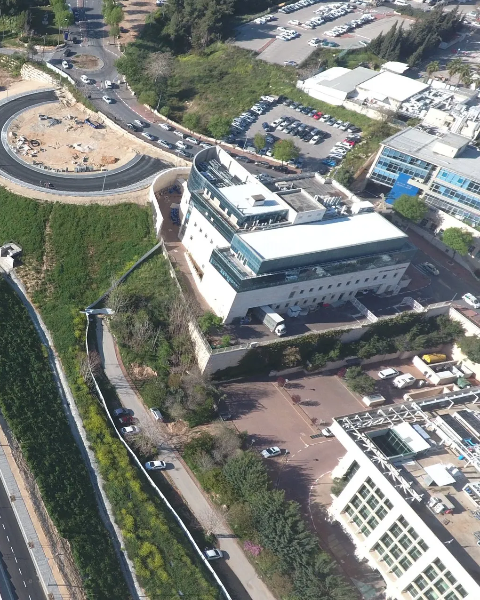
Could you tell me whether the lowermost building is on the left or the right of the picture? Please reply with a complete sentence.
It is on the right.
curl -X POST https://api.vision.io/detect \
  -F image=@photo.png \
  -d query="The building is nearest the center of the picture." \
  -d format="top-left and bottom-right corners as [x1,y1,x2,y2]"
[172,146,418,324]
